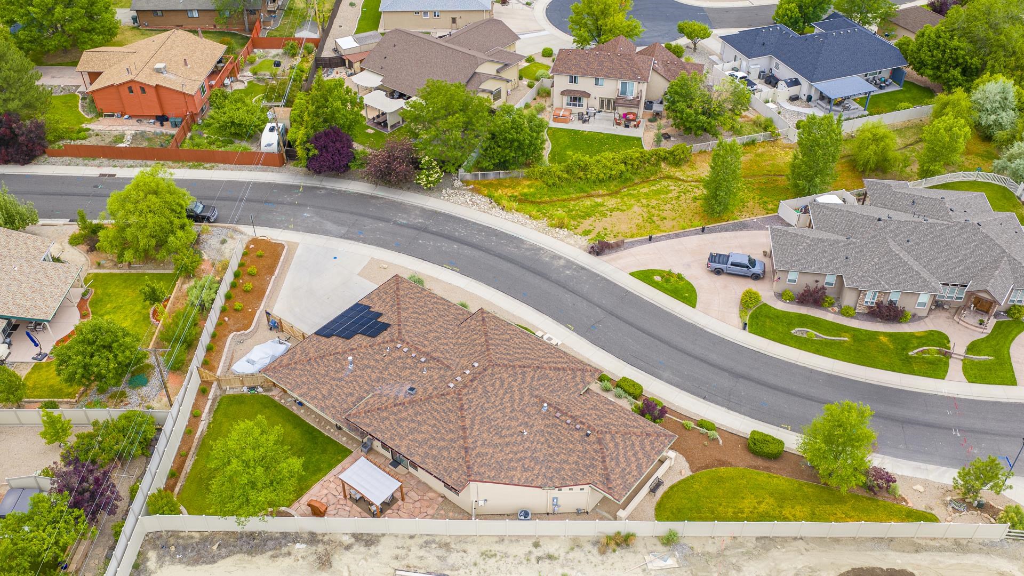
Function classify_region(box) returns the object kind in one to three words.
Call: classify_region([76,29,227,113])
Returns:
house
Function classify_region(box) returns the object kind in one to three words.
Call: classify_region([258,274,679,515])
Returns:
house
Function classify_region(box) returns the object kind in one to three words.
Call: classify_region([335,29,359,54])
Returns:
shed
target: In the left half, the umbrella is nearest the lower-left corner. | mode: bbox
[17,327,44,360]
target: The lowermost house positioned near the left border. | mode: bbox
[0,225,83,340]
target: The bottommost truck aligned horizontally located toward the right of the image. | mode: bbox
[705,250,771,281]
